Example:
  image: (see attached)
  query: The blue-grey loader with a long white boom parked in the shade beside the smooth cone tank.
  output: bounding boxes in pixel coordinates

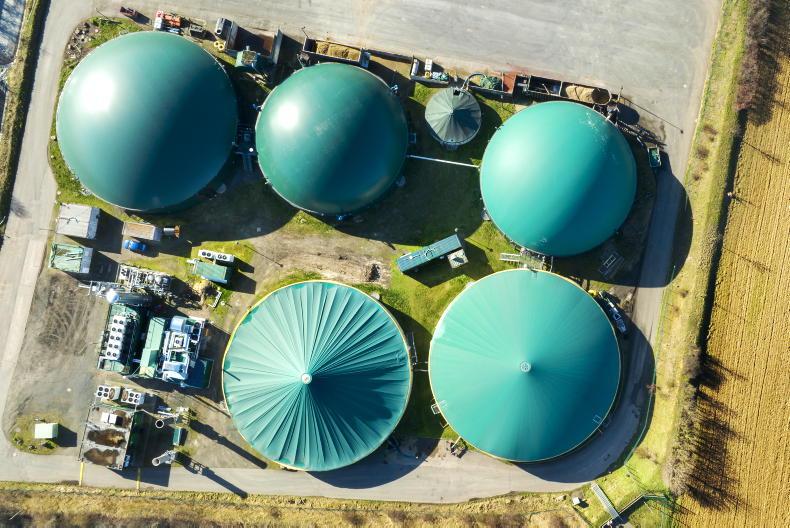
[603,294,630,333]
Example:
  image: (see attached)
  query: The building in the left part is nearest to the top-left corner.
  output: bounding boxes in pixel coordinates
[56,205,101,239]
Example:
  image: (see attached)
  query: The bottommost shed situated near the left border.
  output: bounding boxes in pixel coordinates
[35,422,66,438]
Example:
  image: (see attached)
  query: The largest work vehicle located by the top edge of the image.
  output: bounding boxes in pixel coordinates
[151,7,179,29]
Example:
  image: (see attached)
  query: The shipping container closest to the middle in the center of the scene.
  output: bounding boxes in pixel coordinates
[397,235,462,273]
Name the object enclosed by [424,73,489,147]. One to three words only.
silo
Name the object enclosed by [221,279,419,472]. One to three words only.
storage tank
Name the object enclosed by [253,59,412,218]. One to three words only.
storage tank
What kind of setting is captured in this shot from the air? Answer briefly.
industrial area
